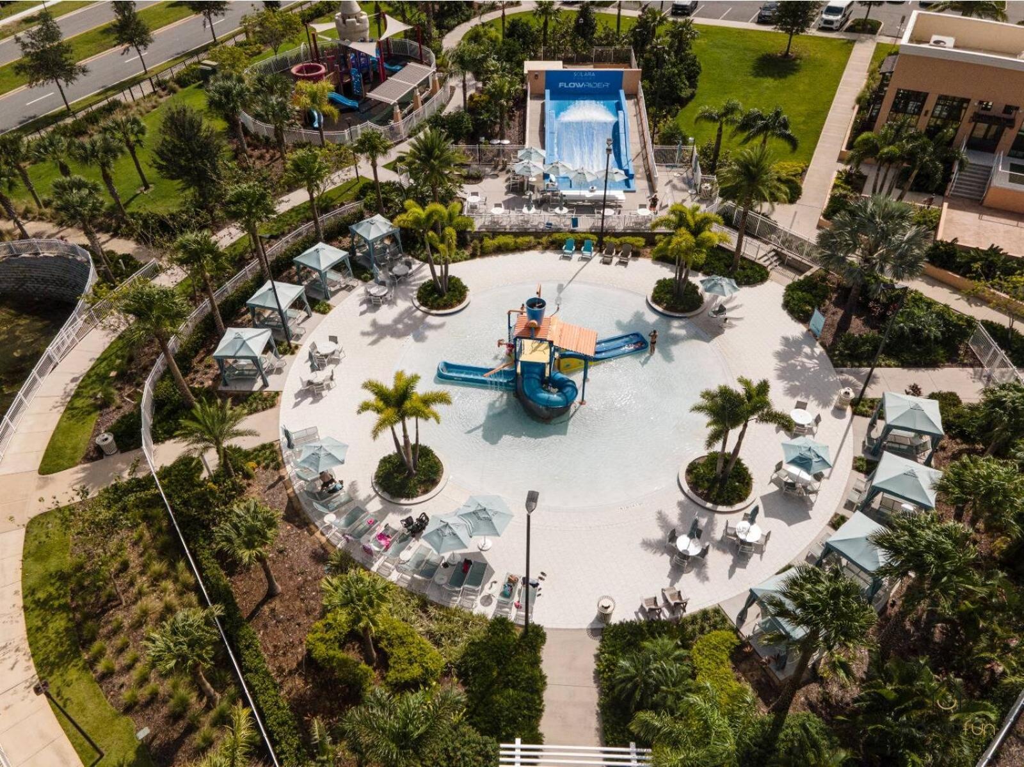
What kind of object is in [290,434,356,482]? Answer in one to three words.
umbrella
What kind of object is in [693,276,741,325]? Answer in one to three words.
umbrella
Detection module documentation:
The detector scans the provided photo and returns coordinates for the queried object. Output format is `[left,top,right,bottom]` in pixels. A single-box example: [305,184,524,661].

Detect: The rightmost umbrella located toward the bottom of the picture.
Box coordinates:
[772,435,841,499]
